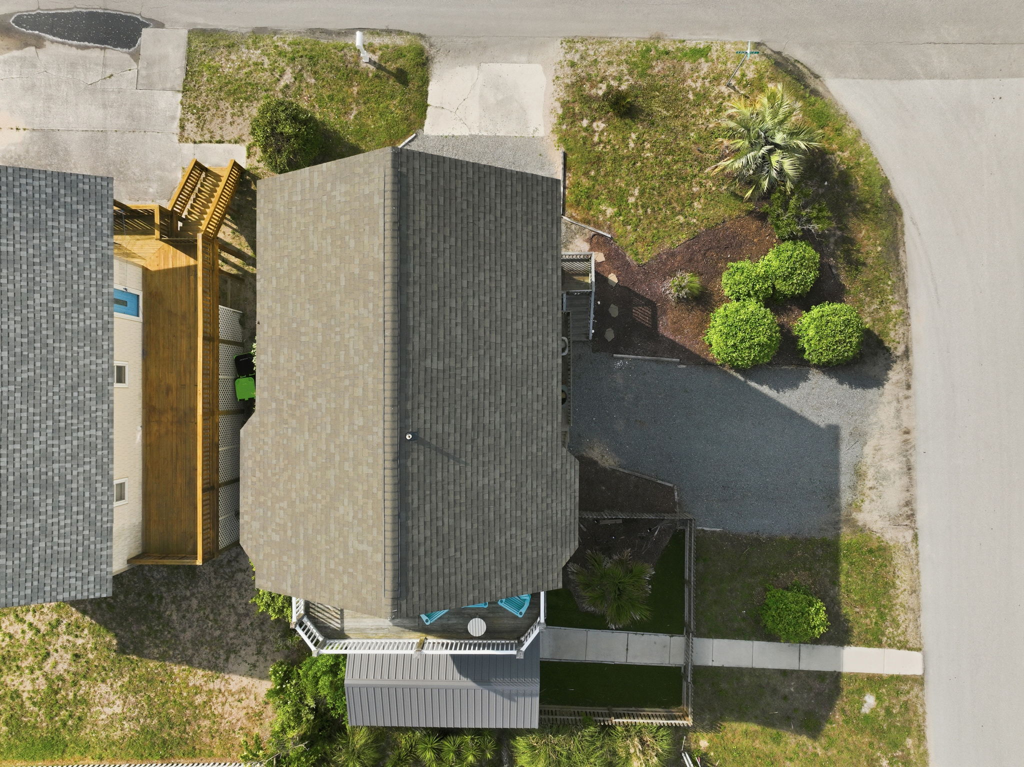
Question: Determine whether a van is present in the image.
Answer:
No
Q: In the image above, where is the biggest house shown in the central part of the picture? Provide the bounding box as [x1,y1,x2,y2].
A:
[240,146,579,621]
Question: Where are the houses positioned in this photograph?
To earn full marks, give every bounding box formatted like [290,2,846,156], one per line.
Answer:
[0,166,145,608]
[240,146,579,621]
